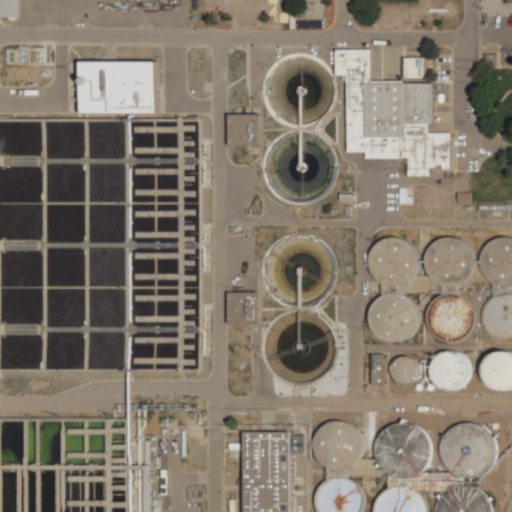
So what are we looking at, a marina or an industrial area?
industrial area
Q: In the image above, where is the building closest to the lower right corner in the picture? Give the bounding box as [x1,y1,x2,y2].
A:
[388,476,467,492]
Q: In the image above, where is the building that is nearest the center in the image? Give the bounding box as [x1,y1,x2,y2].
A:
[227,293,260,322]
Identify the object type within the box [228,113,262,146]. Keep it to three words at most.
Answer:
building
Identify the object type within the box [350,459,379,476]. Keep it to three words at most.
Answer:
building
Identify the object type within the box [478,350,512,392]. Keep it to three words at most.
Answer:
storage tank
